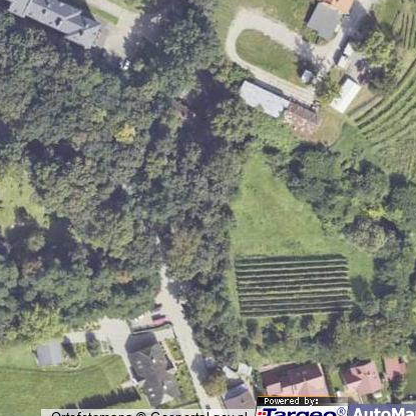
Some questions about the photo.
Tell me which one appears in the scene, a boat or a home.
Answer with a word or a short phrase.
home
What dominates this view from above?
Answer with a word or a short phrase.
trees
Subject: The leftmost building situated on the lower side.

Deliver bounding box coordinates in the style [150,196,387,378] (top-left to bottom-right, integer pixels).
[36,343,65,368]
